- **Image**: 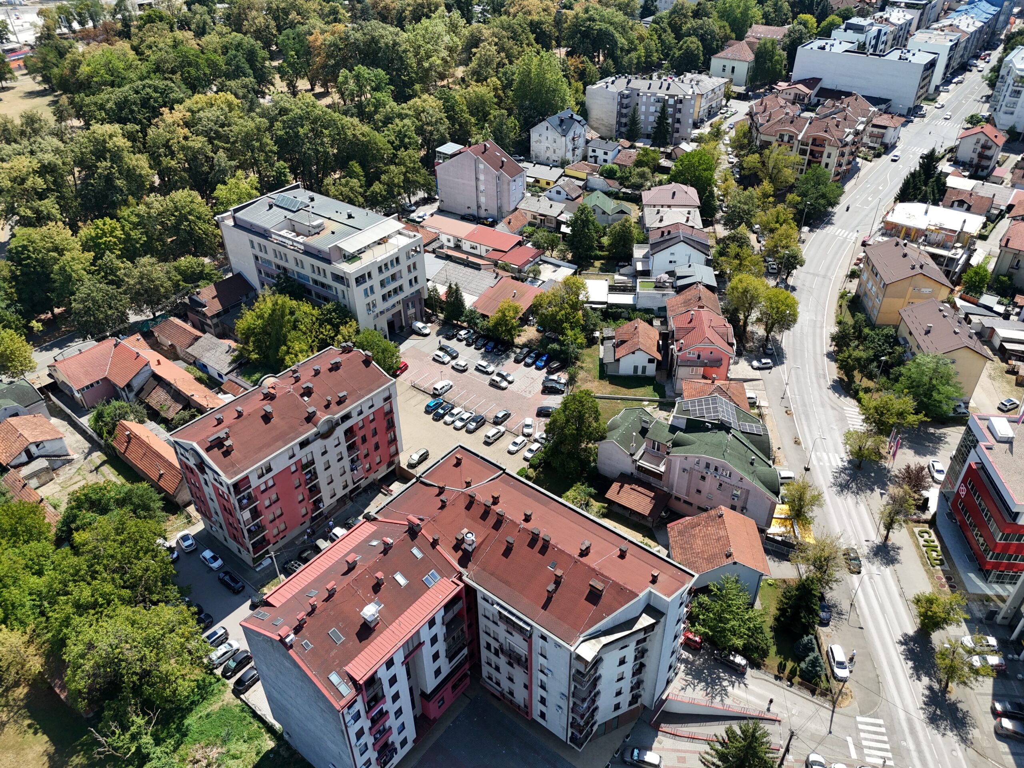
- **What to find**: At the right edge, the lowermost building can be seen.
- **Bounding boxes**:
[940,410,1024,592]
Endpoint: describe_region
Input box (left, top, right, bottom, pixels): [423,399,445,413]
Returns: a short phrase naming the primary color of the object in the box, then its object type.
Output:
blue car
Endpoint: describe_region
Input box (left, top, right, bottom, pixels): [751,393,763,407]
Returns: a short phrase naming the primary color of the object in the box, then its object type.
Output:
white vehicle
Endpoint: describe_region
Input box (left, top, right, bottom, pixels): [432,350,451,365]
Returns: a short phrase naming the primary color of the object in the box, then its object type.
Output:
white car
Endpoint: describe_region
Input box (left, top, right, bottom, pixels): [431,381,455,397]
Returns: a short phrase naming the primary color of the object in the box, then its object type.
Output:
white vehicle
